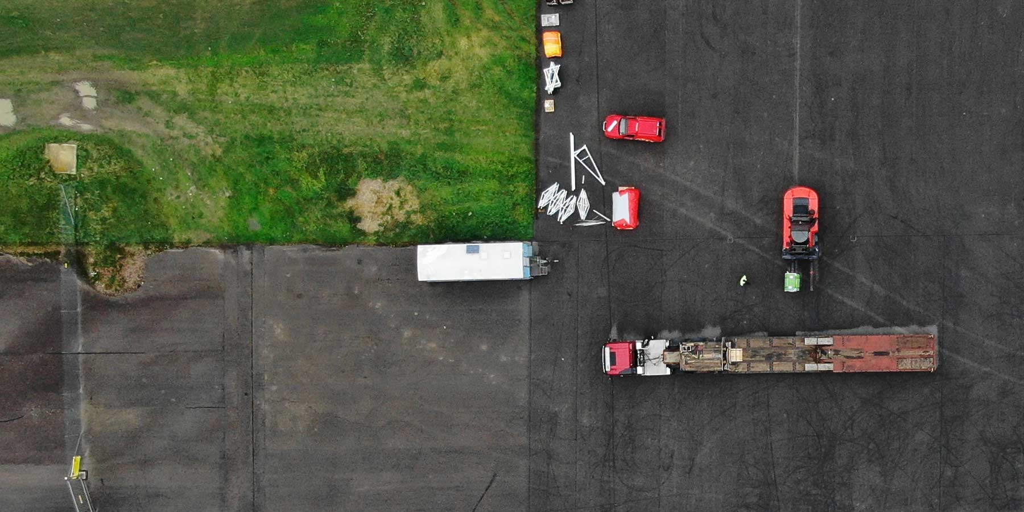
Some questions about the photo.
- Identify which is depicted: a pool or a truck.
truck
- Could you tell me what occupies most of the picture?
paved ground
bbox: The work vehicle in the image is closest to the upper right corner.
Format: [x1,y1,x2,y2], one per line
[783,187,819,291]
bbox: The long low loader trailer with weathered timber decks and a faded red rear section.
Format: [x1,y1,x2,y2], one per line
[663,335,936,373]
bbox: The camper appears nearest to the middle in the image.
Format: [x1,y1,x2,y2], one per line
[417,242,561,286]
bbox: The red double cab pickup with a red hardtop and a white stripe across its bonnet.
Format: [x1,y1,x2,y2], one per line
[605,114,666,144]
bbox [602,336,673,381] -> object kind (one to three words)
truck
